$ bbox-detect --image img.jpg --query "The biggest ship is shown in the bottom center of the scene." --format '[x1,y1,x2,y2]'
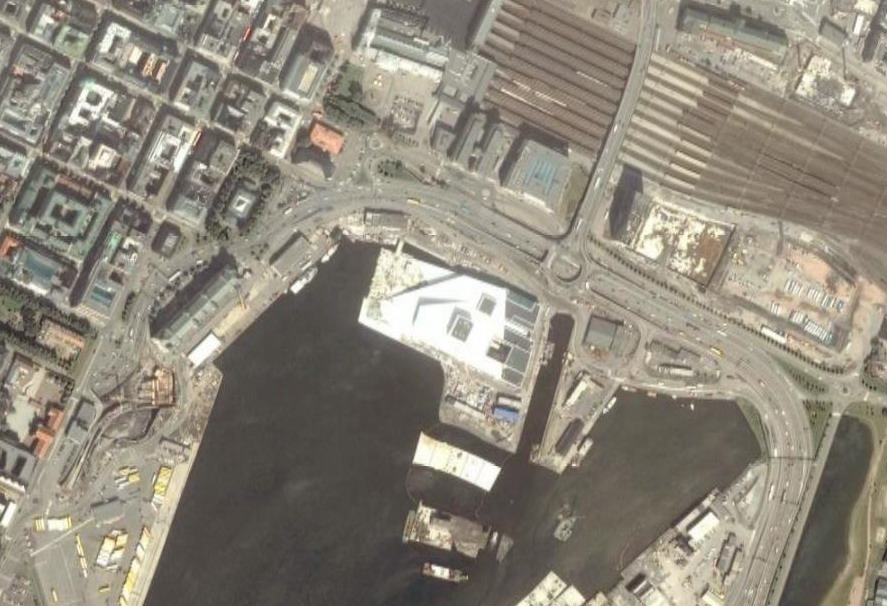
[403,500,491,558]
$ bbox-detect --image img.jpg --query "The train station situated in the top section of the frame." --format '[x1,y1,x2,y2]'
[471,0,887,289]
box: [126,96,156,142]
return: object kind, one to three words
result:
building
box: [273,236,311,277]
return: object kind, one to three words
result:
shed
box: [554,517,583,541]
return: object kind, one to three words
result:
boat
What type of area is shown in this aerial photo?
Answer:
port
